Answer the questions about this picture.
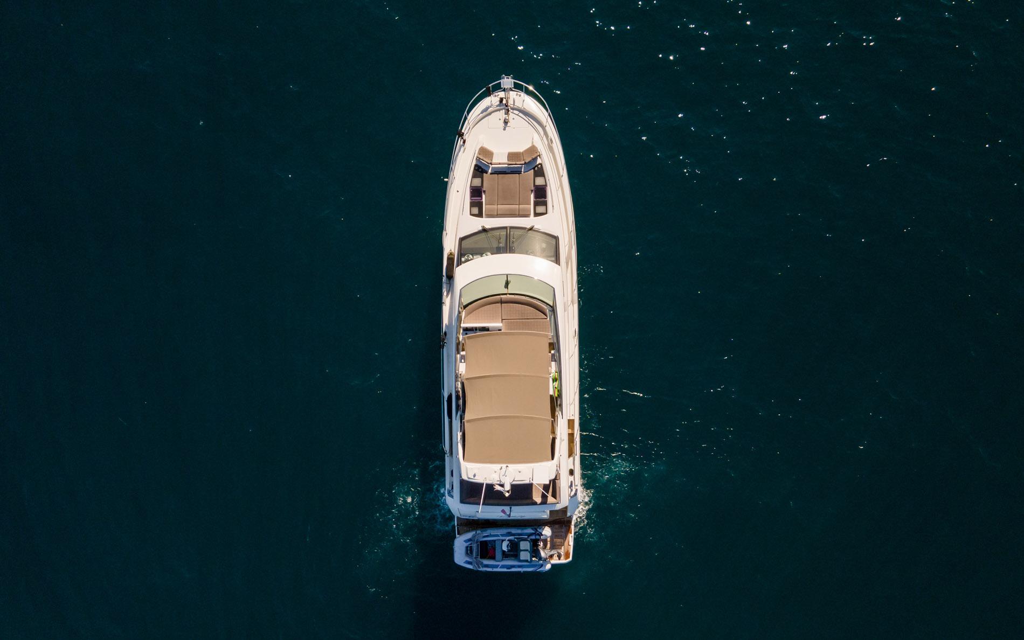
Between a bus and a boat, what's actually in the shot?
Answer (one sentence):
Looking from above, you can make out a boat.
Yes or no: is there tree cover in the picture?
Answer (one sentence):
No, there's no tree cover in this view.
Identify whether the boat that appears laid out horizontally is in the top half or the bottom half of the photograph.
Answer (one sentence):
It is in the bottom half that the boat that appears laid out horizontally appears.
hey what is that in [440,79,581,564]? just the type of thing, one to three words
boat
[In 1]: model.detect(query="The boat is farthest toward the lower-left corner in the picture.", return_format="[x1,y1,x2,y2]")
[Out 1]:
[453,527,564,572]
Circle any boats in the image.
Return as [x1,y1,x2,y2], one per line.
[453,527,564,572]
[440,79,581,564]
